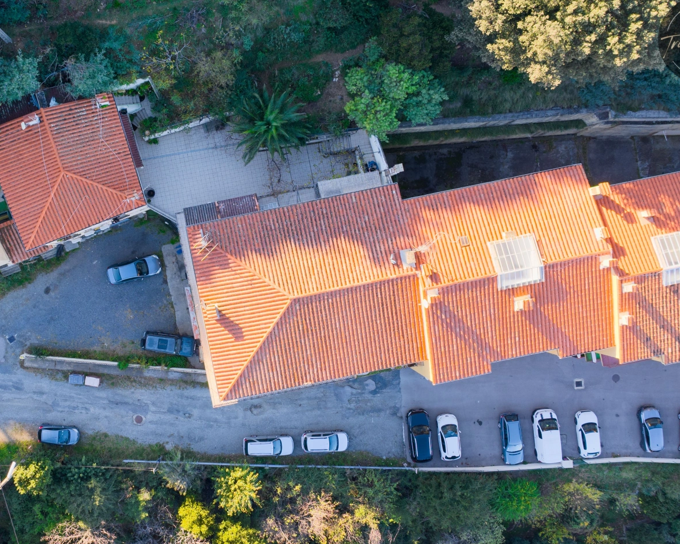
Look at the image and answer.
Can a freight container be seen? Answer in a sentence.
No, no freight container is visible in the view.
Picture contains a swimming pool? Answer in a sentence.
No, the frame has no swimming pool in it.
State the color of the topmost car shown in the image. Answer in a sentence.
The topmost car is blue.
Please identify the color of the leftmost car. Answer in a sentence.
In this view, the leftmost car is blue.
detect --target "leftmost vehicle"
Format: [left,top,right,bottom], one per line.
[38,424,81,448]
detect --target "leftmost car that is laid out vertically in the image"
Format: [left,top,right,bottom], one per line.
[407,407,434,464]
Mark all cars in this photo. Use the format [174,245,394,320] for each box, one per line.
[38,424,81,448]
[300,429,348,455]
[407,407,434,464]
[573,409,602,458]
[243,433,293,459]
[139,333,196,359]
[498,412,526,464]
[436,413,463,461]
[107,256,163,285]
[637,405,667,453]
